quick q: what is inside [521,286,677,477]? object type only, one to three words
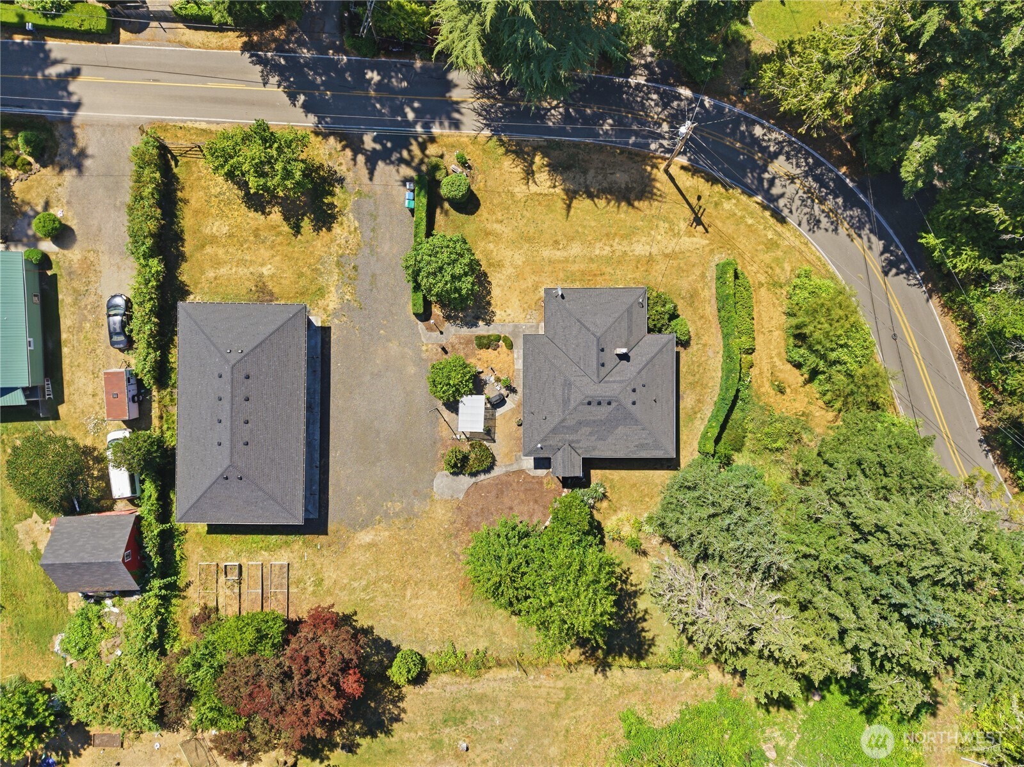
house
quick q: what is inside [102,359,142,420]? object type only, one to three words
trailer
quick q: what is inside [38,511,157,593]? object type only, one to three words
building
